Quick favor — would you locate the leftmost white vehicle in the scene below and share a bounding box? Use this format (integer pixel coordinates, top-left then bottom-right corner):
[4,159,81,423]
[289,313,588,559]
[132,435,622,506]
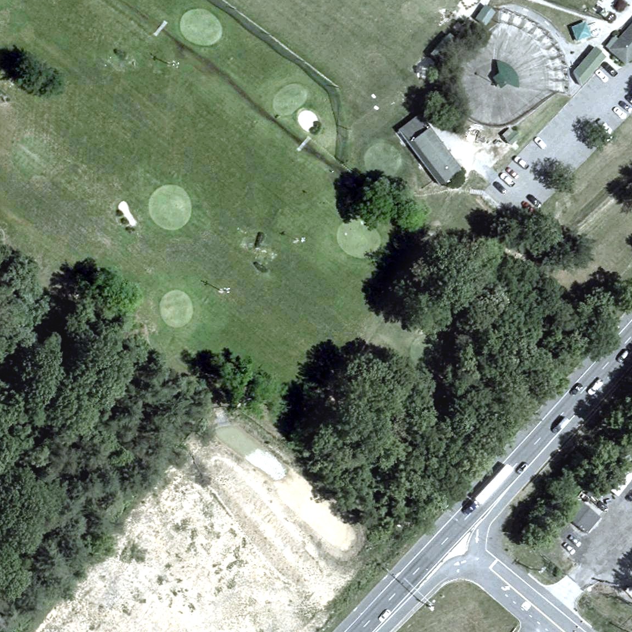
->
[381,607,395,621]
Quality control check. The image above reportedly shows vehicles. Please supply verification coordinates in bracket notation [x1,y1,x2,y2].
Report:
[552,415,568,431]
[512,154,528,170]
[533,136,547,150]
[526,192,540,207]
[499,173,514,187]
[506,165,520,180]
[381,607,395,621]
[602,61,617,77]
[569,382,583,396]
[459,463,513,517]
[612,105,627,120]
[513,461,527,476]
[623,492,632,504]
[594,68,608,83]
[618,98,632,113]
[603,121,615,135]
[492,180,507,195]
[587,379,603,396]
[521,200,535,214]
[566,534,580,548]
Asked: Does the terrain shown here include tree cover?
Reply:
Yes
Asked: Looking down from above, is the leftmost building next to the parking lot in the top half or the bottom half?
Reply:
top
